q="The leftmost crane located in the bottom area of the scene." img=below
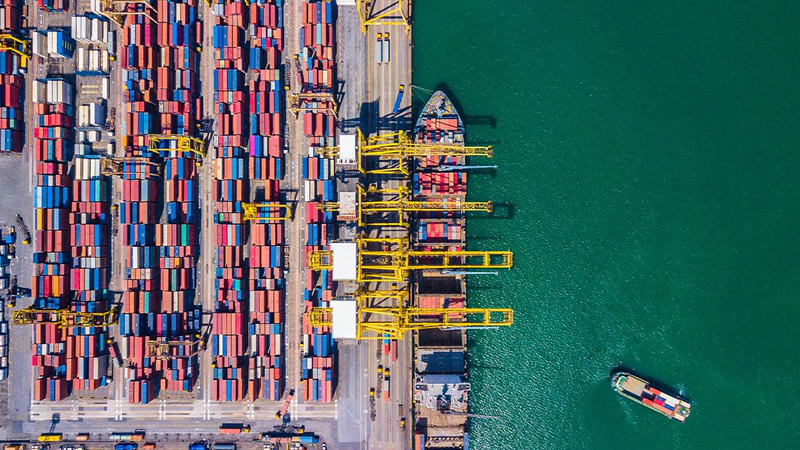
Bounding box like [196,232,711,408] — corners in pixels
[10,302,71,328]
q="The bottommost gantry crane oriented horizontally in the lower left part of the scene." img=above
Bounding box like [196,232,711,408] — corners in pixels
[149,333,205,359]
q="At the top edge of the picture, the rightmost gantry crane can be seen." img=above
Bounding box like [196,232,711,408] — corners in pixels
[337,0,409,37]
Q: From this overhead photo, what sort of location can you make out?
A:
port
